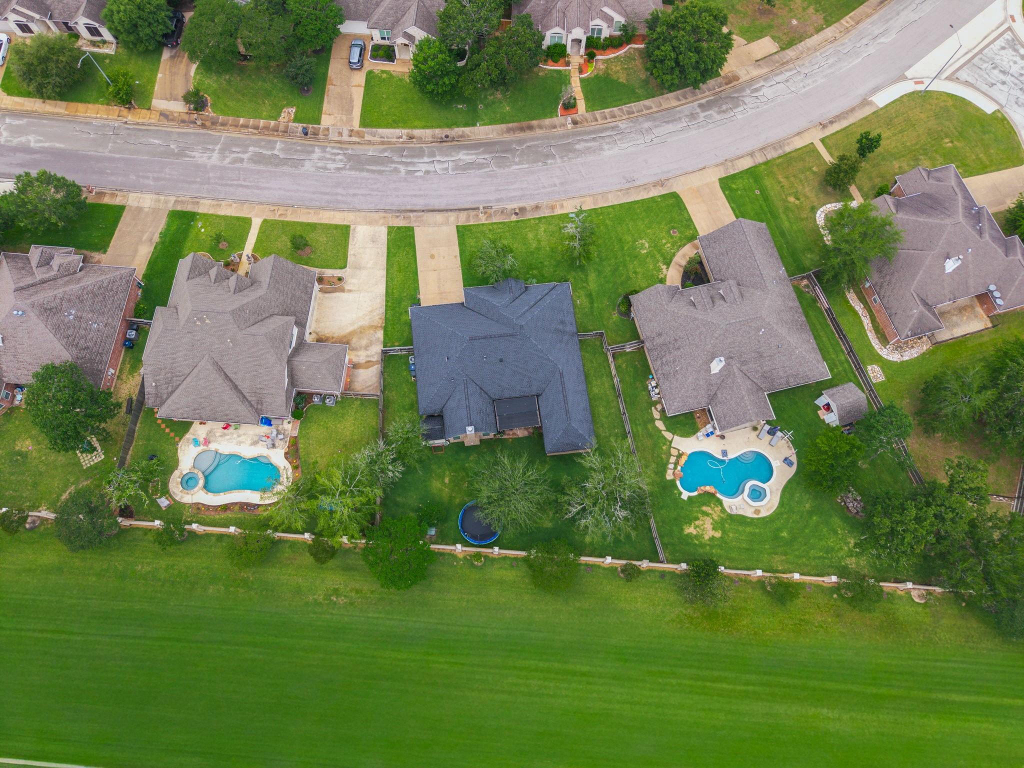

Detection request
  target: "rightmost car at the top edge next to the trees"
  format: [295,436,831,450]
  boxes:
[345,38,364,70]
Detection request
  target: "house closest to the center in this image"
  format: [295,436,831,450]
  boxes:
[409,278,596,457]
